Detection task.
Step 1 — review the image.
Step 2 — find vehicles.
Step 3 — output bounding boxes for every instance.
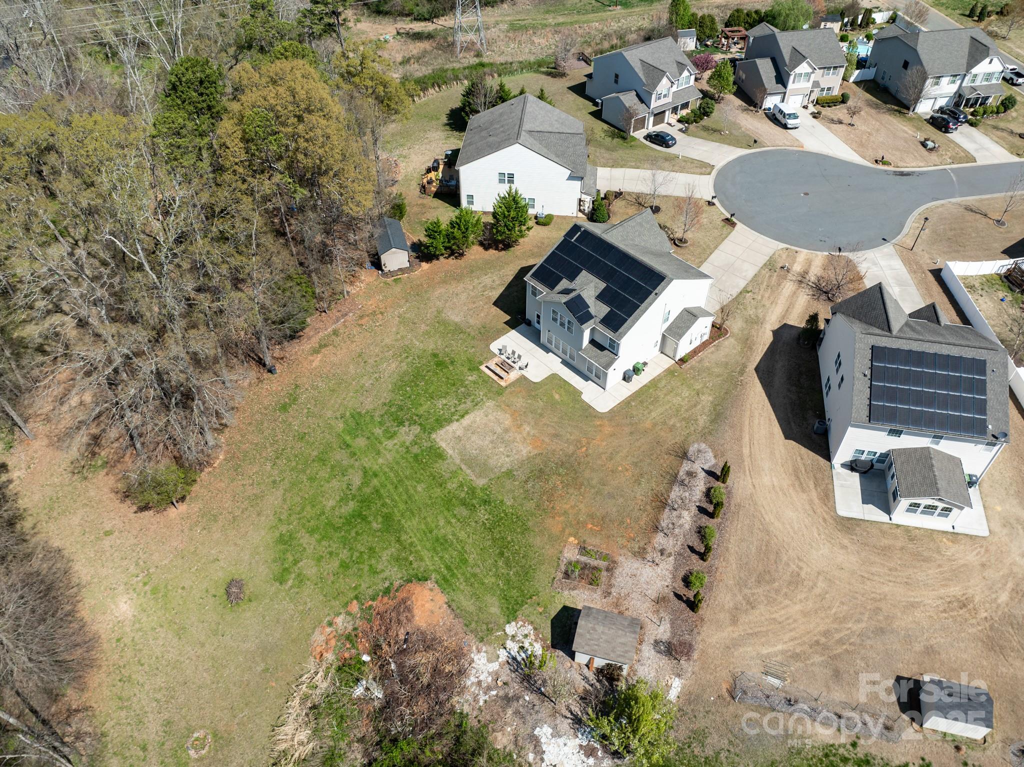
[929,114,959,132]
[1006,65,1024,84]
[937,104,968,123]
[644,131,677,147]
[771,100,803,129]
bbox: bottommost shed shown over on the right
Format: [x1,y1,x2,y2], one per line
[915,669,996,741]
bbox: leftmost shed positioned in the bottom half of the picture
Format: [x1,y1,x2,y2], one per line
[572,606,641,678]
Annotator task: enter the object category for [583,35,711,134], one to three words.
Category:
house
